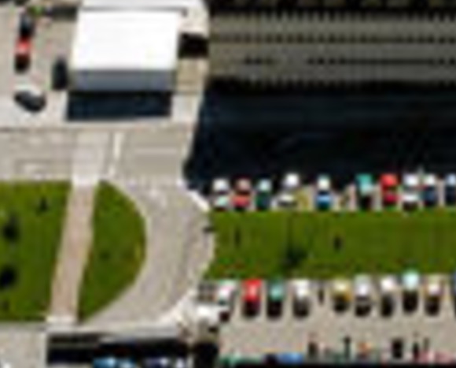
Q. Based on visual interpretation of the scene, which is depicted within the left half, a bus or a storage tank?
bus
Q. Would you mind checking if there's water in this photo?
No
